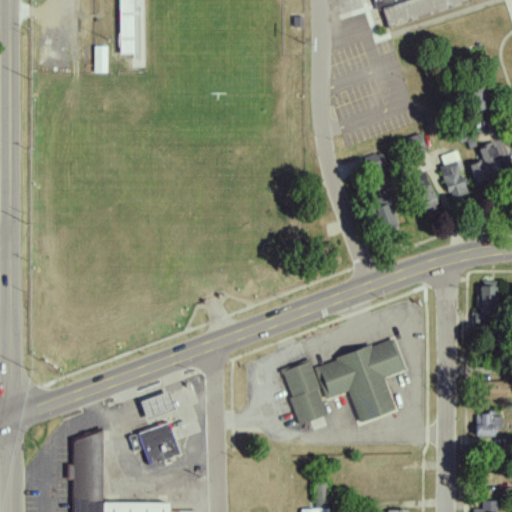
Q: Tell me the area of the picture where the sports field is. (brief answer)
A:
top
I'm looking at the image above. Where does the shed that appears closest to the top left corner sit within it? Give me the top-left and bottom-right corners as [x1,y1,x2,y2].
[93,45,109,74]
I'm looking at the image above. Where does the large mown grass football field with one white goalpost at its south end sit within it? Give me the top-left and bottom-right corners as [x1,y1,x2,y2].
[150,0,281,100]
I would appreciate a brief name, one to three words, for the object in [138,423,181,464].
building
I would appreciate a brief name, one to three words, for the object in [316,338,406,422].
building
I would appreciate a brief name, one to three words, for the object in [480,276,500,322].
house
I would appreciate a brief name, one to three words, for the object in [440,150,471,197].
house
